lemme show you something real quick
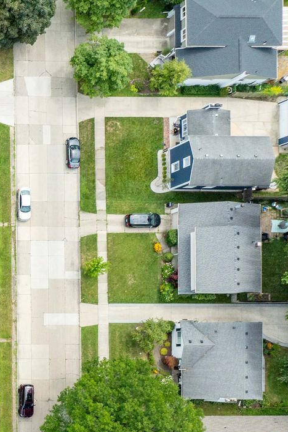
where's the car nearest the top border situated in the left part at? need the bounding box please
[63,138,81,170]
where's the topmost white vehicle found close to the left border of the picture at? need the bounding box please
[14,187,29,222]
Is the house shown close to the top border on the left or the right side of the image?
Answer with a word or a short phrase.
right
